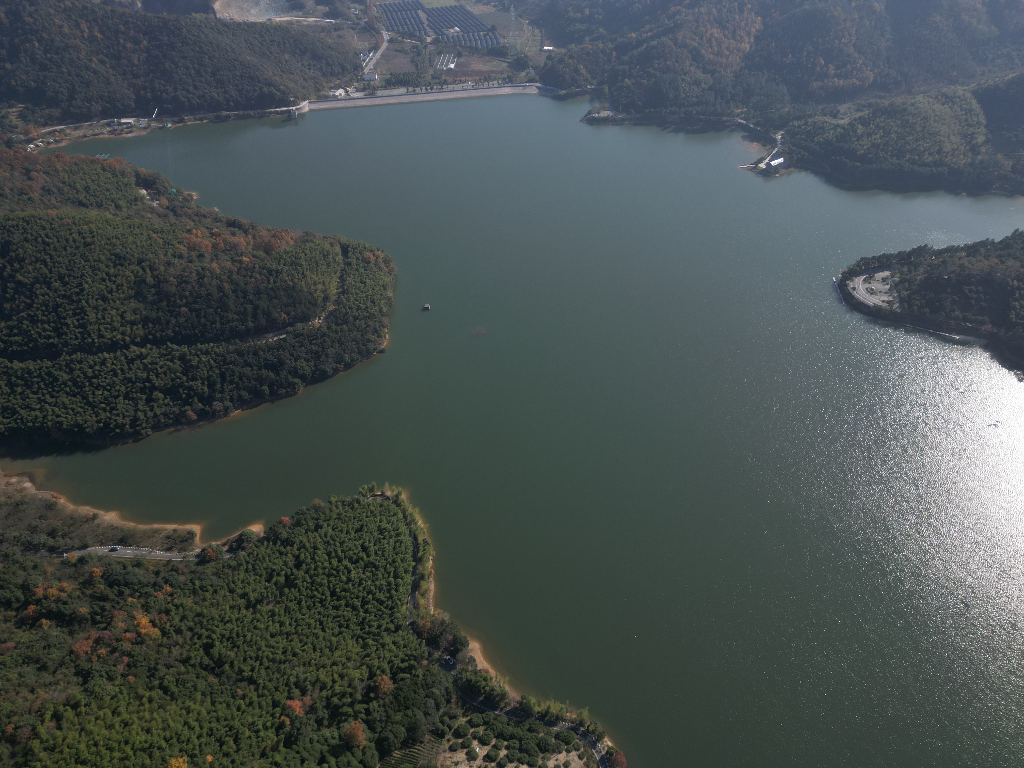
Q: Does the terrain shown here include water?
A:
Yes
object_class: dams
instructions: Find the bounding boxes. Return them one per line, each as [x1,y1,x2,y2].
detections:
[307,84,535,111]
